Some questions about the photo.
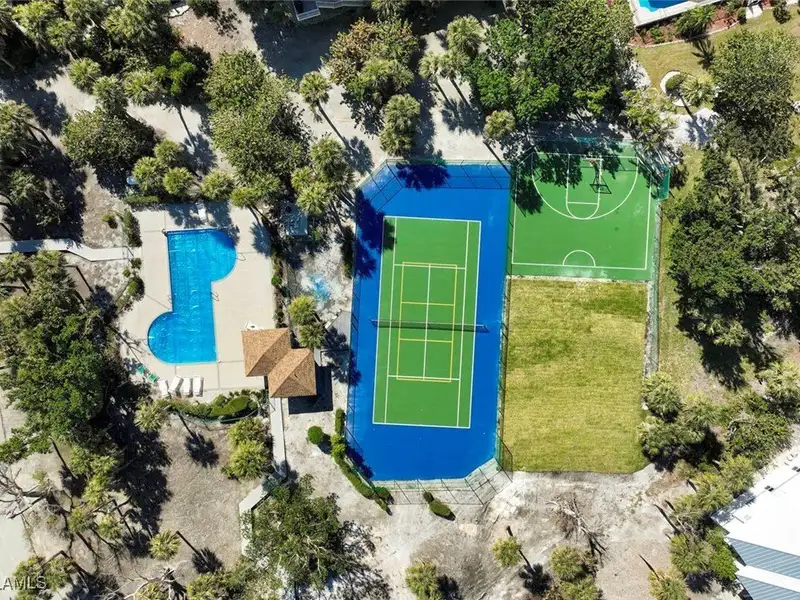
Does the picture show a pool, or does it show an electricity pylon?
pool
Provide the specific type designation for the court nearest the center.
tennis court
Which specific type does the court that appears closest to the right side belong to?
basketball court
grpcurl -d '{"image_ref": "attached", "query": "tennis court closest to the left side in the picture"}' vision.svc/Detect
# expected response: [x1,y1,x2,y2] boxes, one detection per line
[345,164,511,480]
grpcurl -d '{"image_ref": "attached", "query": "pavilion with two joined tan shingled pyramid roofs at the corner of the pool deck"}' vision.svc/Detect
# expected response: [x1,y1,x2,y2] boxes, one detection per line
[242,328,319,398]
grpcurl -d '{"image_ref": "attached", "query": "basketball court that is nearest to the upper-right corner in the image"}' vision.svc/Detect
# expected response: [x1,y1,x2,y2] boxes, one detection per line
[509,145,660,281]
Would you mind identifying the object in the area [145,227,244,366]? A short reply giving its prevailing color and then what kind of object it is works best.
blue swimming pool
